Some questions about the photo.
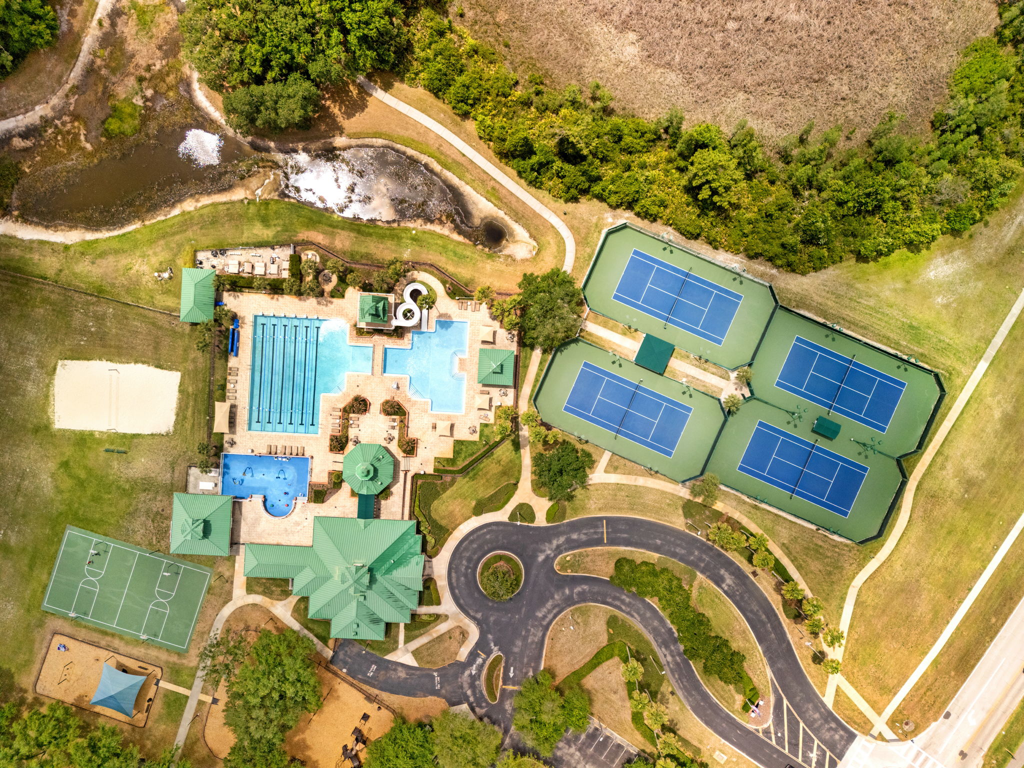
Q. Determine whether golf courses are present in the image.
No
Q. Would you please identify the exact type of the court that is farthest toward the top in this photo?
tennis court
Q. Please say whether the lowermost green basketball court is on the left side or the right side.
left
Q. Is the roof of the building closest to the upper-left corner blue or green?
green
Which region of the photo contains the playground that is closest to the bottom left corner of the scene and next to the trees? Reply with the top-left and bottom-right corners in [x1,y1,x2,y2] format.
[34,632,163,728]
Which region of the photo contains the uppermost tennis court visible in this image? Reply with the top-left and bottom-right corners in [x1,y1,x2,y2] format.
[586,226,774,368]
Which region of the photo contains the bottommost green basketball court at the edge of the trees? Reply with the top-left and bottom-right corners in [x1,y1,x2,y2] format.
[42,525,213,653]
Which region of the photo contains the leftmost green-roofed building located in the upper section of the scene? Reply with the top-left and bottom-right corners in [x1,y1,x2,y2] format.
[180,268,219,323]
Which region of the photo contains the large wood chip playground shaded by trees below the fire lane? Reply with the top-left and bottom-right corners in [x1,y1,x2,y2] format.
[203,635,393,768]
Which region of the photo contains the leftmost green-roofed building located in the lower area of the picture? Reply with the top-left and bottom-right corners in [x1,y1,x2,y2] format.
[170,493,235,556]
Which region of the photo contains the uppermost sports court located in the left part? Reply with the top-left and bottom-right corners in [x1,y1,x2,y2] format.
[53,360,181,434]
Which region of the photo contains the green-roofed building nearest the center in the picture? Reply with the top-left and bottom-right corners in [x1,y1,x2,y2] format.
[477,348,515,386]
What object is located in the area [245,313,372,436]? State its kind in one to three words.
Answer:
swimming pool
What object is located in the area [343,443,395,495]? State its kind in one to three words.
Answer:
building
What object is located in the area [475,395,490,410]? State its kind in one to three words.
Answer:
umbrella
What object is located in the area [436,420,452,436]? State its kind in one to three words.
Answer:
umbrella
